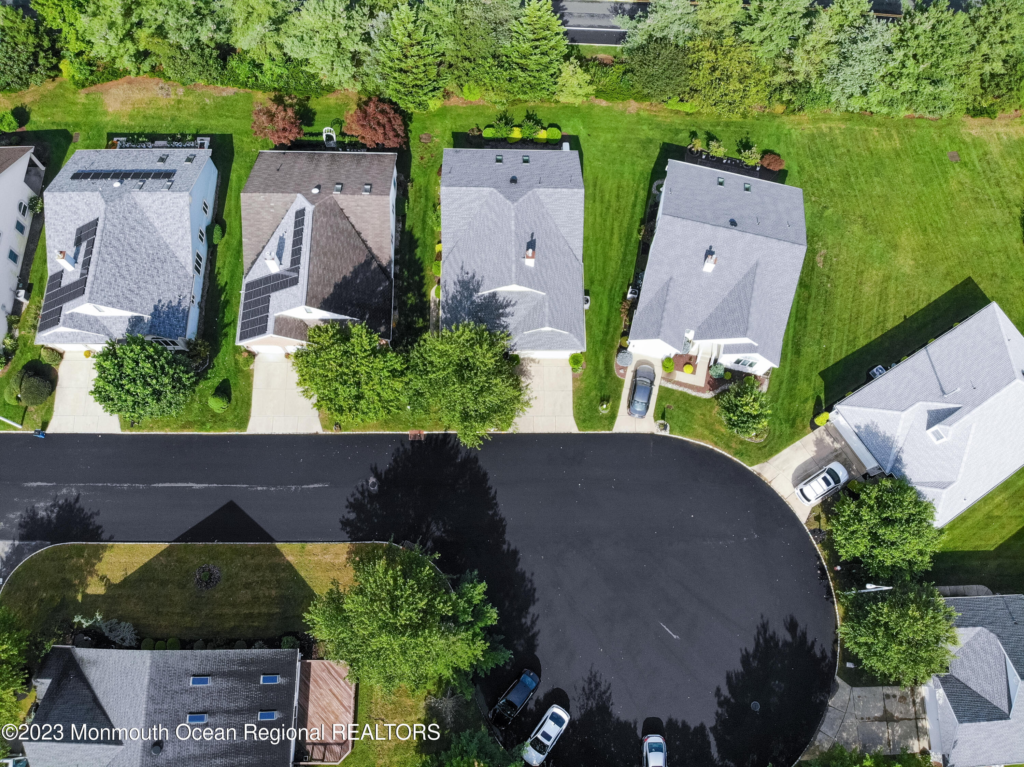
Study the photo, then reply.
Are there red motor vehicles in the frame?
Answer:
No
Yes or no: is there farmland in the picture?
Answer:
No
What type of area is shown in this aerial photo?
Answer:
residential area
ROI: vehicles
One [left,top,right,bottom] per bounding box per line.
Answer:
[520,702,573,767]
[487,667,543,729]
[640,733,667,767]
[792,464,849,509]
[0,752,28,767]
[627,364,658,421]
